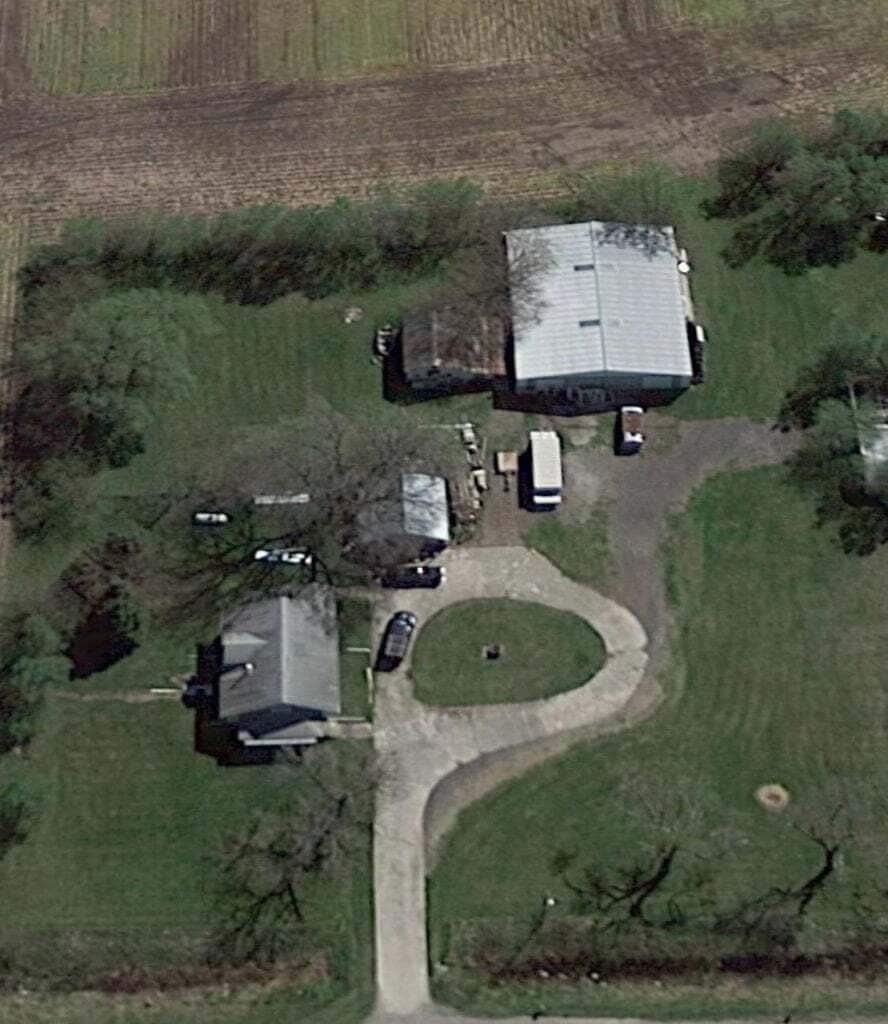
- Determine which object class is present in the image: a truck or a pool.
truck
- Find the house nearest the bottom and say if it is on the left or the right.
left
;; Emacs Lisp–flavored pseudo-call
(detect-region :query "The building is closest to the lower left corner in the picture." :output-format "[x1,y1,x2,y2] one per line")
[185,595,340,750]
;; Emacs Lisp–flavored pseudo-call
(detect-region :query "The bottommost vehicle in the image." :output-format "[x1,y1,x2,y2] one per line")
[382,614,415,668]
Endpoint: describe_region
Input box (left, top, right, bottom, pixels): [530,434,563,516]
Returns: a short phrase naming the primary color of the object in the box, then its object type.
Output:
white truck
